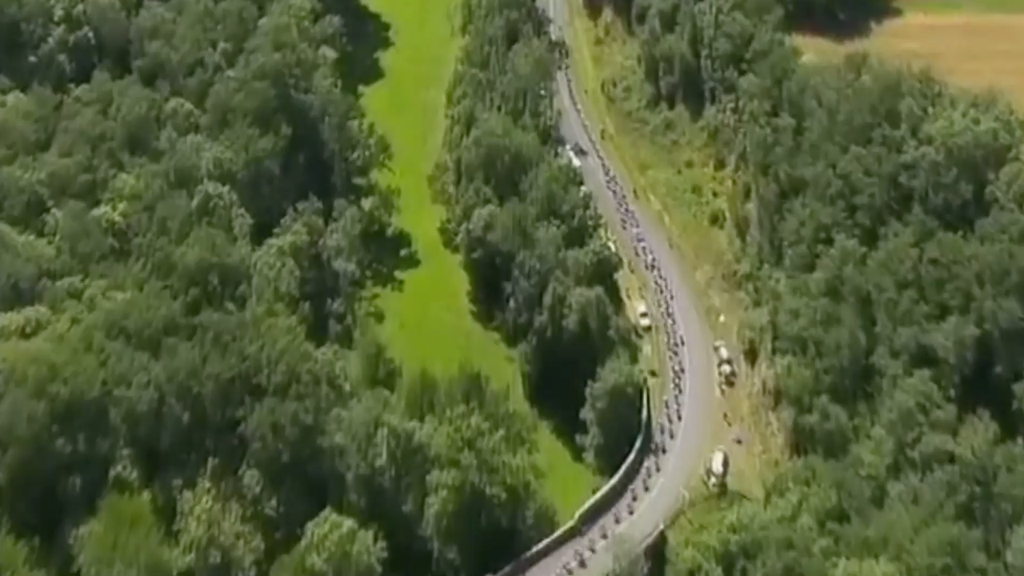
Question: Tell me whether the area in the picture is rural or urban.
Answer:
rural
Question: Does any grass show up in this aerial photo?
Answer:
Yes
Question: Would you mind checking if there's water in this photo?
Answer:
No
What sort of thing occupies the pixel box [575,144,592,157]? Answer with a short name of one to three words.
vehicle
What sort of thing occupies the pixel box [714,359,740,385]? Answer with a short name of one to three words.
car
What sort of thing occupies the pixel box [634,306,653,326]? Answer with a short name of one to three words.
car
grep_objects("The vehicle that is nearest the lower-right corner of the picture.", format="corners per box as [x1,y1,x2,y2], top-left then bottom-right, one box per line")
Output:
[708,449,729,488]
